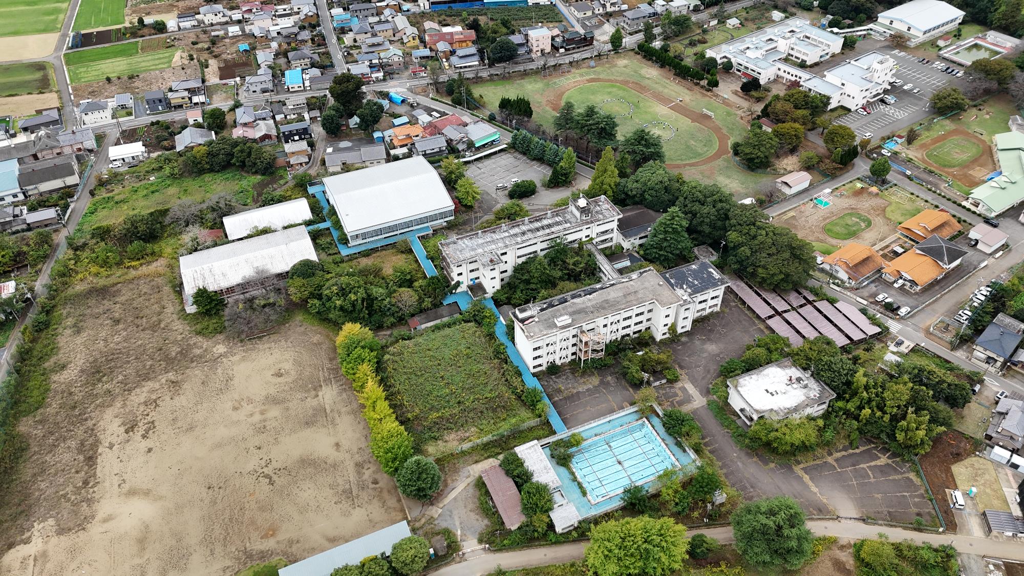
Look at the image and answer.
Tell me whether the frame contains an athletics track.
Yes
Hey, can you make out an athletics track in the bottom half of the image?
No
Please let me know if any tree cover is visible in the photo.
Yes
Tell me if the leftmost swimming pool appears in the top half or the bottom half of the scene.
bottom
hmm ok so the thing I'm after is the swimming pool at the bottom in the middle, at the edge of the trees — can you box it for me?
[539,403,694,536]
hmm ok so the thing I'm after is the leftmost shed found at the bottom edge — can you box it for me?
[279,521,413,576]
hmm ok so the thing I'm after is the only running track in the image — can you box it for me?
[545,77,738,169]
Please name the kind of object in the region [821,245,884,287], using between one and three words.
building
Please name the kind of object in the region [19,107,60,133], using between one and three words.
house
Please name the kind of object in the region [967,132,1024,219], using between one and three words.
building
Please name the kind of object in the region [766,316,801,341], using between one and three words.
shed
